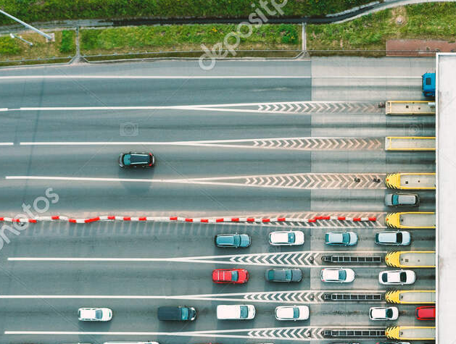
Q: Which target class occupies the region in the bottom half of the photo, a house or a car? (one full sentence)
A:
The feature located in the bottom half of the photo is a car.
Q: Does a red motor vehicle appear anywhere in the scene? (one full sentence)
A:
Yes, the photo shows a red motor vehicle.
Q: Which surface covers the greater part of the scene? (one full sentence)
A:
What you mostly see from above here is paved ground.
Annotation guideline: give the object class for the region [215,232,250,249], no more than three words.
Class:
car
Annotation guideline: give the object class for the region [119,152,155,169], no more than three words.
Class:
car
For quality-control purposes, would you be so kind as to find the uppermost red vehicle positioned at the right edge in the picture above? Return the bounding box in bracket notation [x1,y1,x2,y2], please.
[416,306,437,320]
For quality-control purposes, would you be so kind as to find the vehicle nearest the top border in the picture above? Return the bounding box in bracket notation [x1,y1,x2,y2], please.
[421,71,437,96]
